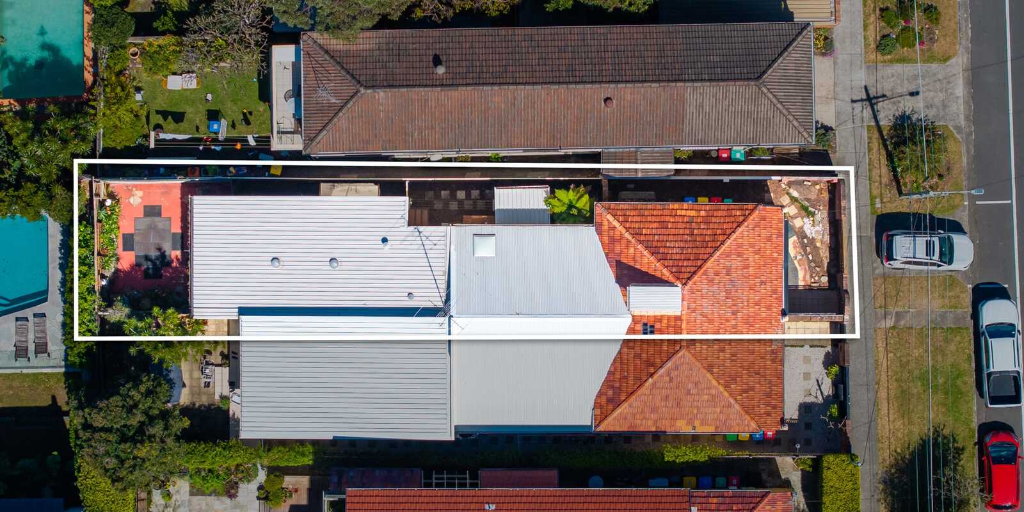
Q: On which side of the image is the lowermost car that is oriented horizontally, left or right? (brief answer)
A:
right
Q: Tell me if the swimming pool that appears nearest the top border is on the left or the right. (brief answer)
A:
left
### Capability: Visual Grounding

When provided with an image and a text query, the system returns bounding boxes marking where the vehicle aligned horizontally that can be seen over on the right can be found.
[879,228,974,273]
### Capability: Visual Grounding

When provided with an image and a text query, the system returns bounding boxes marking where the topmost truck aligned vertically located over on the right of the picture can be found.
[977,296,1024,407]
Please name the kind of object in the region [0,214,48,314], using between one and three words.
swimming pool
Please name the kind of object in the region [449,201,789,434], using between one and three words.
house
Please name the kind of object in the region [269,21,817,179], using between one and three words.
building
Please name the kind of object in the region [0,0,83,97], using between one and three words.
swimming pool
